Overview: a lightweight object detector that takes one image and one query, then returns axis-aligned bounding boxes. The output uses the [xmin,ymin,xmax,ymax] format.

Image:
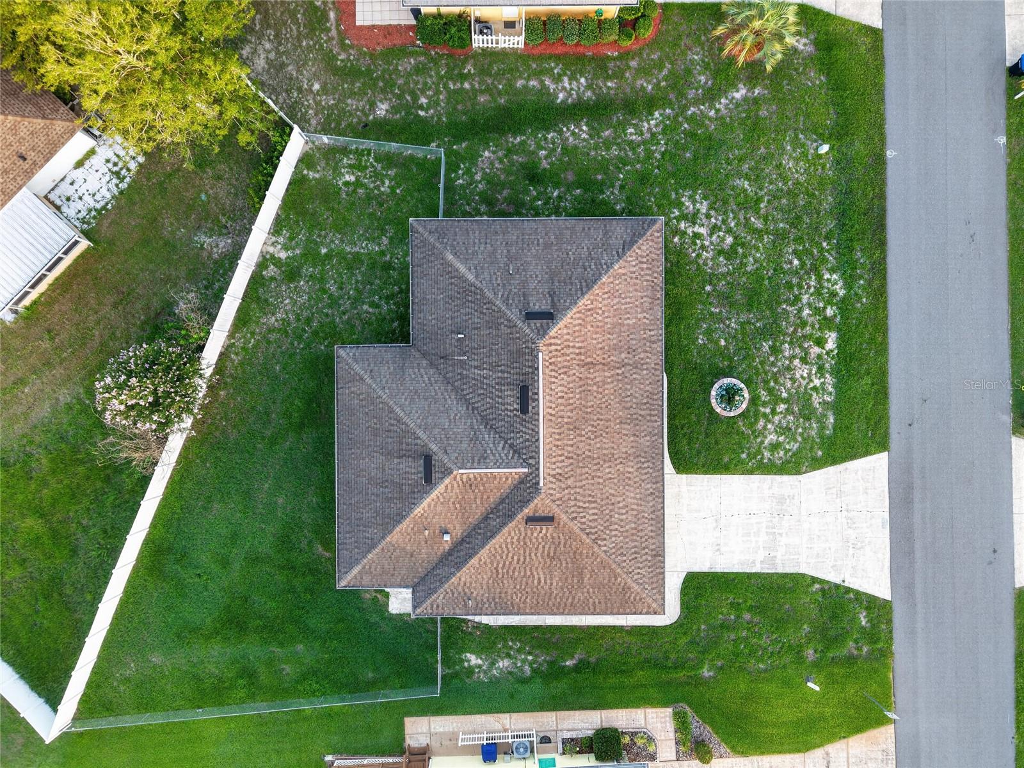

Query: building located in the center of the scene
[334,215,667,619]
